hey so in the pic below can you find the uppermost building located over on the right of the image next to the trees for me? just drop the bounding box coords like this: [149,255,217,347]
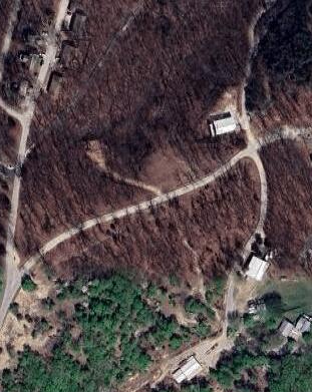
[210,116,238,136]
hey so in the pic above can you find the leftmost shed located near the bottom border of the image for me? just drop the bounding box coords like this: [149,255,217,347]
[172,357,201,383]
